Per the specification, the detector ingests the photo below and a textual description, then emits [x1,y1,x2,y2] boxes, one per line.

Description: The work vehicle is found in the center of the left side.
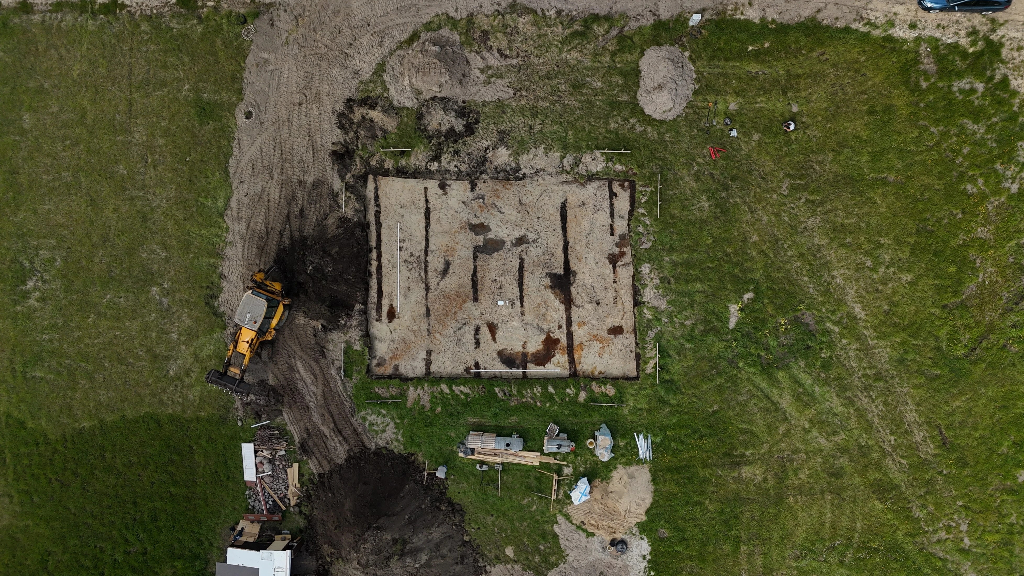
[207,265,299,403]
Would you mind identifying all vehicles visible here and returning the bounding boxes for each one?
[915,0,1018,14]
[207,265,299,403]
